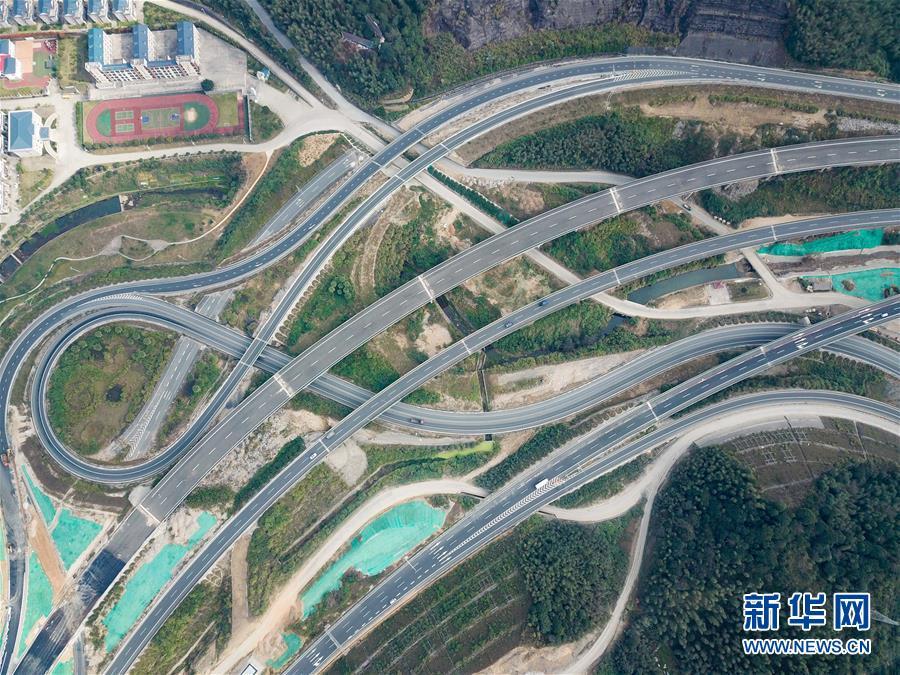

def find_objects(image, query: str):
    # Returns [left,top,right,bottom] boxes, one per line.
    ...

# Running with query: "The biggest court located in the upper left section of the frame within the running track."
[141,105,181,128]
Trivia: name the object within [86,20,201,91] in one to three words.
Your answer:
building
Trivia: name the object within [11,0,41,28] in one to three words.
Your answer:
house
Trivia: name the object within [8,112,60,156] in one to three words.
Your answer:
building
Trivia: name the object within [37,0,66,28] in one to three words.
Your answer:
house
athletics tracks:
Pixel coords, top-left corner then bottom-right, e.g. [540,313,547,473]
[86,93,218,145]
